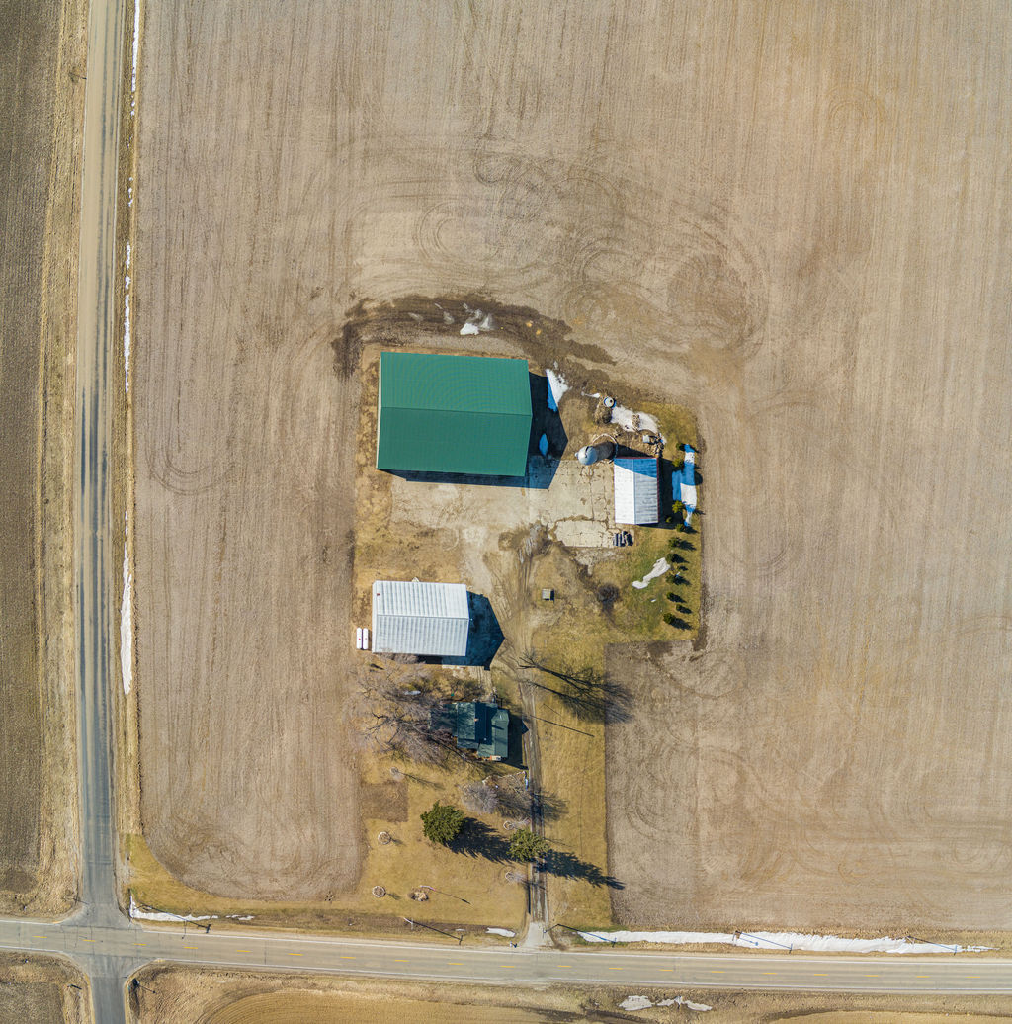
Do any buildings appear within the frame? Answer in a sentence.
Yes, you can see a building in this photo.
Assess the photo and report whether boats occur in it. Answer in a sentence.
No, there appears to be no boat in this shot.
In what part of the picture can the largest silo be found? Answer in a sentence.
The largest silo appears toward the center of the photo.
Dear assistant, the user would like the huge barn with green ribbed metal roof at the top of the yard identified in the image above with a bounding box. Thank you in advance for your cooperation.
[374,353,532,476]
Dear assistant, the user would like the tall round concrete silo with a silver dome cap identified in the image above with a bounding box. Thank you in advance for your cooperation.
[576,438,615,461]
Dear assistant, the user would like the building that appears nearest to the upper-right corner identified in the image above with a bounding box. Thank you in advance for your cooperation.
[613,457,660,524]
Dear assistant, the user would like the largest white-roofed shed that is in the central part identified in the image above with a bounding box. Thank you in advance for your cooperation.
[369,578,471,656]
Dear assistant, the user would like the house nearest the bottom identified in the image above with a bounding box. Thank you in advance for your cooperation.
[428,701,511,757]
